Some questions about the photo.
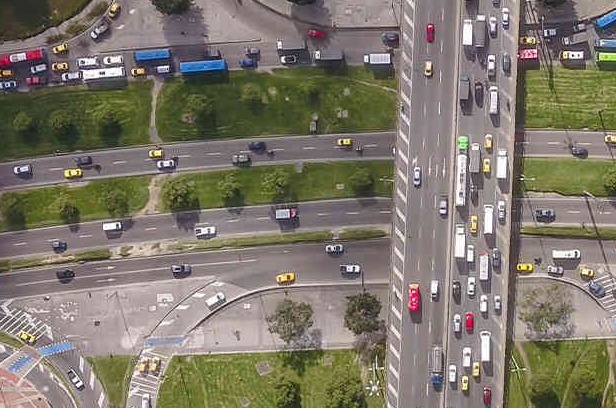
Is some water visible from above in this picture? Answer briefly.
No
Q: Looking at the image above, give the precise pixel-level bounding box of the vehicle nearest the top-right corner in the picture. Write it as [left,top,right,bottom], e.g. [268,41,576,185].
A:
[594,10,616,30]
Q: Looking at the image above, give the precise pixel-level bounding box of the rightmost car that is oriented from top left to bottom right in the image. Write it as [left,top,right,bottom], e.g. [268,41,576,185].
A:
[588,279,604,296]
